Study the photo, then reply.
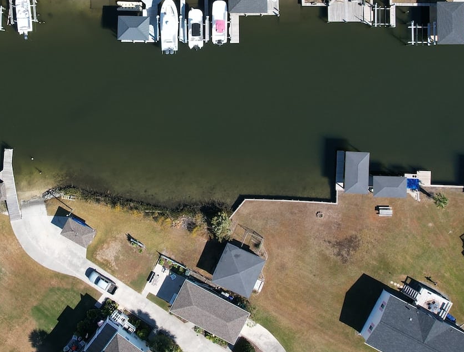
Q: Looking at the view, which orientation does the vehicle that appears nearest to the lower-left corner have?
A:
on a diagonal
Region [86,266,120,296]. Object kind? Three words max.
vehicle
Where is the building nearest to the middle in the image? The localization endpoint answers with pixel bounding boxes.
[212,241,266,299]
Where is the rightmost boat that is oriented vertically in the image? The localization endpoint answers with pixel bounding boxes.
[212,0,227,49]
